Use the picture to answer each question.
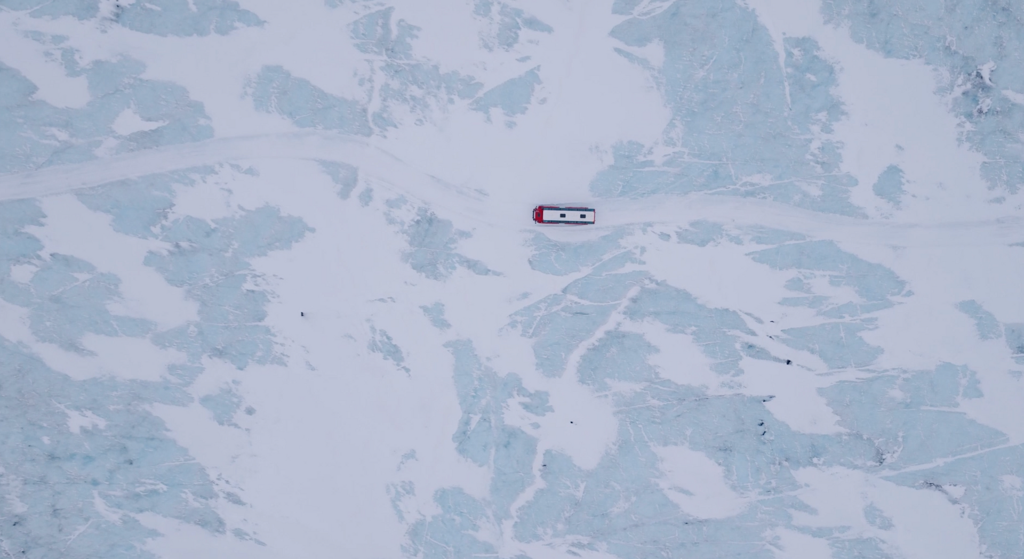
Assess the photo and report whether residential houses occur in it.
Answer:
No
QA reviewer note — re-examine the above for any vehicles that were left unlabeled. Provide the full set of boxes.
[533,206,596,225]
